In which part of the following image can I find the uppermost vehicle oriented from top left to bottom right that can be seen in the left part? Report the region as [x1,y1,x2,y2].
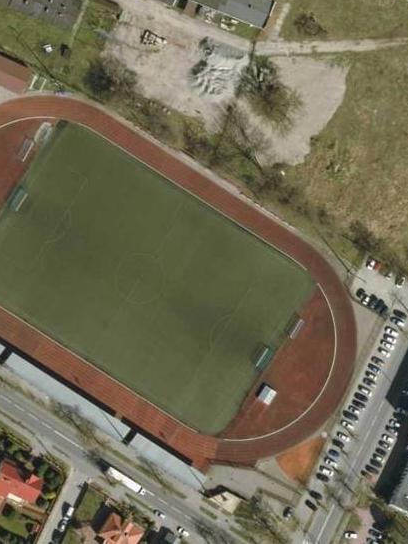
[104,466,146,496]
